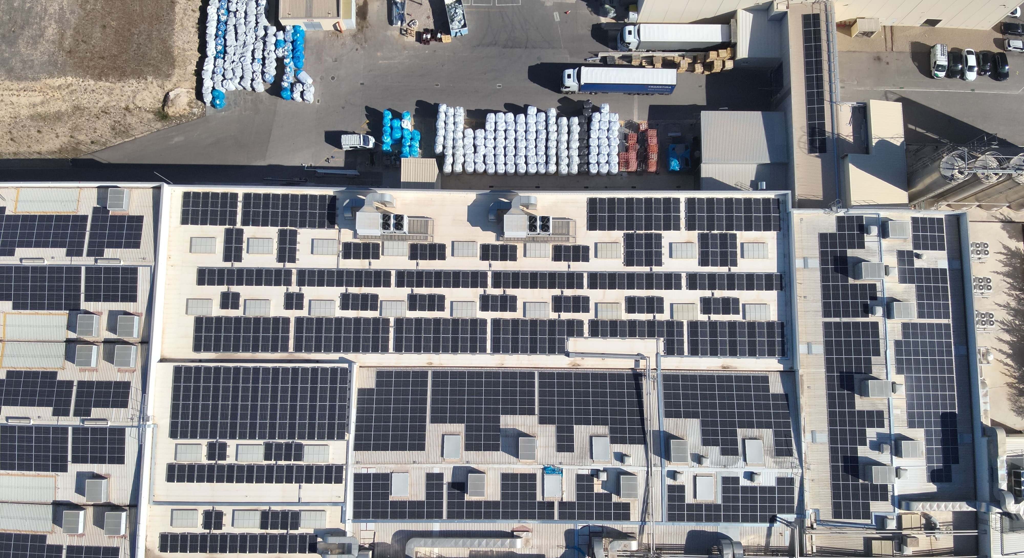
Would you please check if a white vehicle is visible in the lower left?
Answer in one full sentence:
No, no white vehicle is visible in the lower left.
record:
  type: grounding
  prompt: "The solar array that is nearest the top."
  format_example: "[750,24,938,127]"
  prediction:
[803,13,826,153]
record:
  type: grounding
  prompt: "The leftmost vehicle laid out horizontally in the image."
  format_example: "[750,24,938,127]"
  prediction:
[341,134,376,151]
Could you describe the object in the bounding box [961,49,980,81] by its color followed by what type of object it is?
white car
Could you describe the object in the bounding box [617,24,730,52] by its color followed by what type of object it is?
white truck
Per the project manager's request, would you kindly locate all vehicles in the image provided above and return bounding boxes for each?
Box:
[617,24,730,52]
[929,43,950,80]
[1004,7,1020,19]
[1003,22,1024,37]
[992,52,1012,83]
[341,134,376,151]
[947,51,964,80]
[961,49,980,81]
[1005,39,1024,53]
[977,52,994,77]
[561,66,677,95]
